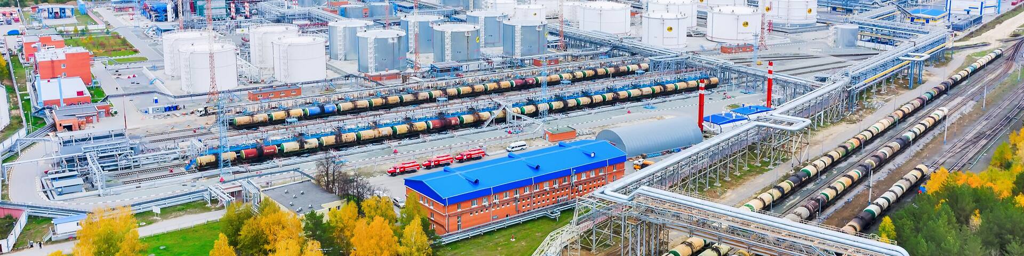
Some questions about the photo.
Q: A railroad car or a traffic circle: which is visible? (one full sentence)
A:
I can see a railroad car in this picture.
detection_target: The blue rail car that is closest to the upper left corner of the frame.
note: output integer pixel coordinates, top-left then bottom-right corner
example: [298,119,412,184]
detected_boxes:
[305,101,340,119]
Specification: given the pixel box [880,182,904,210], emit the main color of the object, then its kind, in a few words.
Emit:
white rail car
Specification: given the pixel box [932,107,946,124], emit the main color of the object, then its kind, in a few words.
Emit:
white rail car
